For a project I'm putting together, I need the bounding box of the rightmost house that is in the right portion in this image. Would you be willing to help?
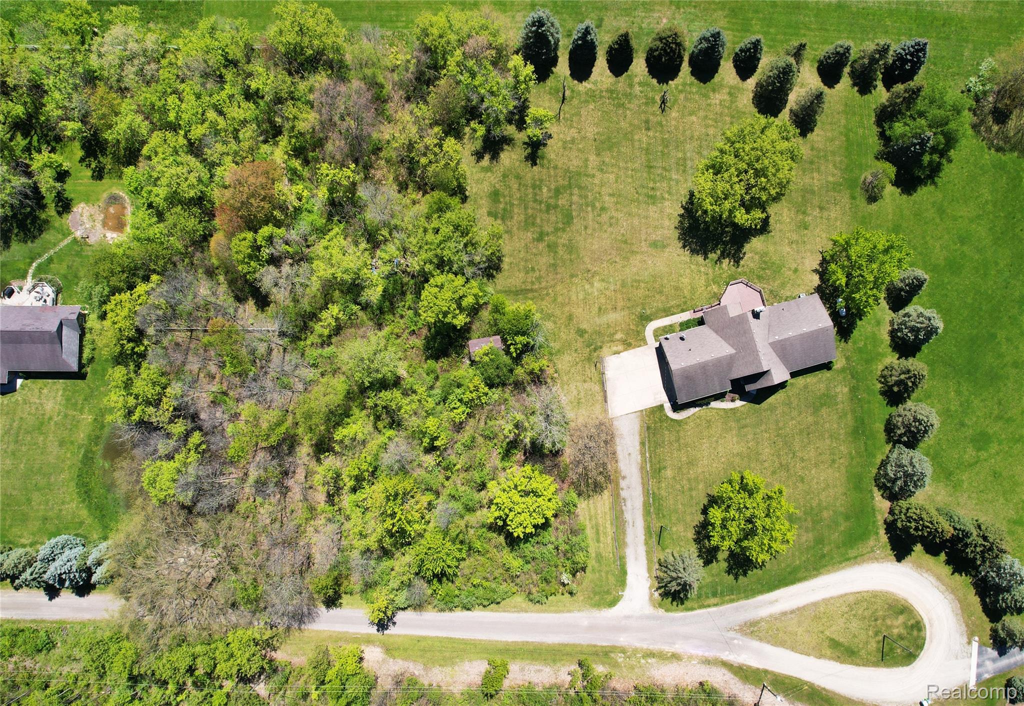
[658,292,837,404]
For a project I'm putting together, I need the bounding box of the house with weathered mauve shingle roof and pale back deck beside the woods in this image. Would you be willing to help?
[0,305,91,384]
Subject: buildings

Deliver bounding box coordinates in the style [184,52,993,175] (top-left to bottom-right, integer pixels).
[469,336,503,362]
[658,292,837,404]
[0,305,91,384]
